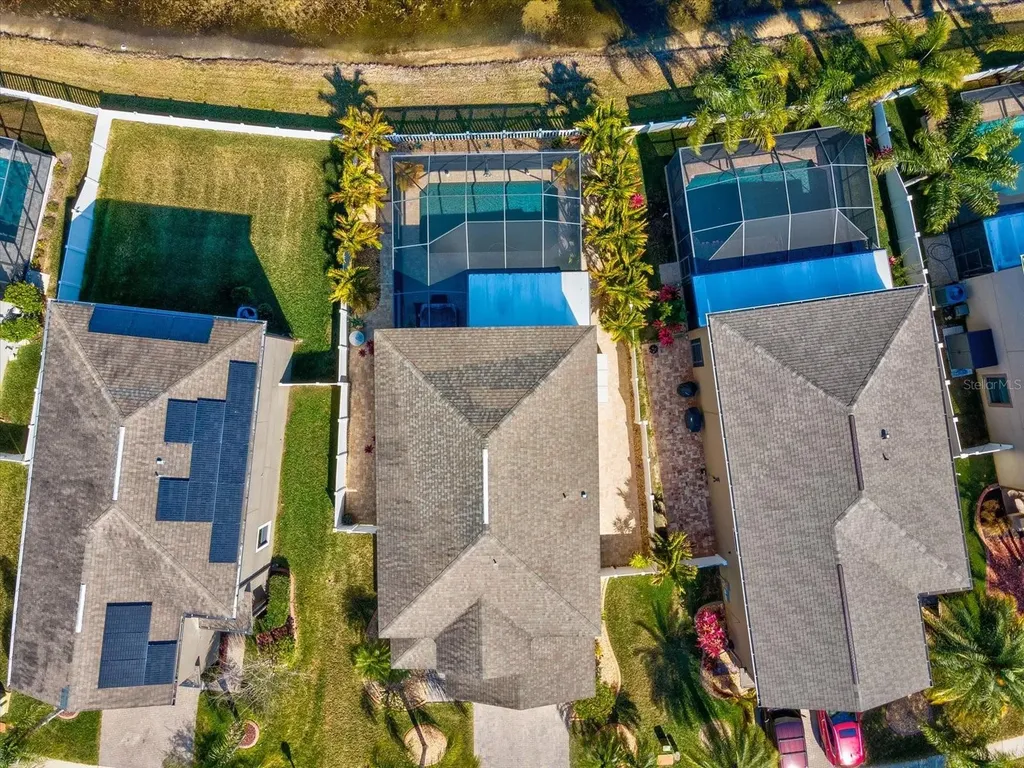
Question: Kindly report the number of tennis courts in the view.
0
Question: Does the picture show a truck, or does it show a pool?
pool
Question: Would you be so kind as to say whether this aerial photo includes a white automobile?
No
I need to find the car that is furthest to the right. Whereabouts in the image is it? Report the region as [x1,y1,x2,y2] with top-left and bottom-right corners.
[815,706,859,767]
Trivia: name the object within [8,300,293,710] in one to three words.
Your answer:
house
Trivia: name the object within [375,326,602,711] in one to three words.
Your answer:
house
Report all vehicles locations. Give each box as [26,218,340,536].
[815,706,859,767]
[765,704,808,768]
